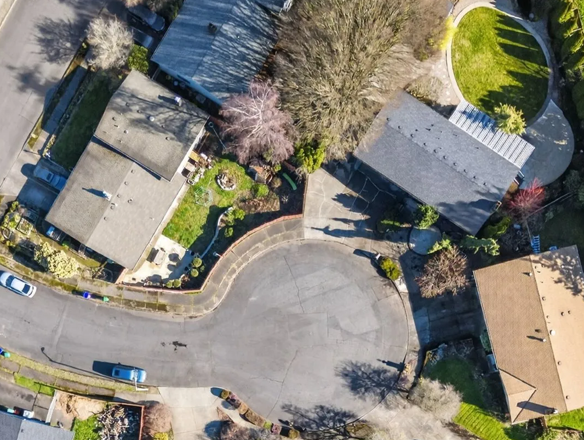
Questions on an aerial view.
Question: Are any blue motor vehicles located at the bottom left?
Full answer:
Yes, a blue motor vehicle is visible at the bottom left.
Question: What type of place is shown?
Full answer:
The picture captures a residential area.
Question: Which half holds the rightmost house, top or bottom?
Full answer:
The rightmost house is in the bottom half of the image.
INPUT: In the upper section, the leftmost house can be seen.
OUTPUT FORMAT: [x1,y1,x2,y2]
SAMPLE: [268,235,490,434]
[44,72,210,269]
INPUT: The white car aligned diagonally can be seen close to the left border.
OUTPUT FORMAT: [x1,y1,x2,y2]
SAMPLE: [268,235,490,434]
[0,269,38,300]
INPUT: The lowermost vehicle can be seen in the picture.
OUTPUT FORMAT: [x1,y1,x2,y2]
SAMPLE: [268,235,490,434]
[112,364,148,382]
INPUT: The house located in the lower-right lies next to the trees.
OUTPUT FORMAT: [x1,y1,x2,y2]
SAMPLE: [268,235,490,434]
[471,245,584,423]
